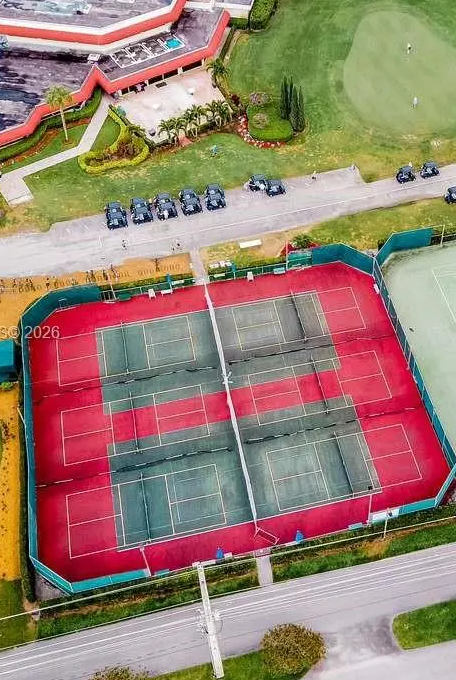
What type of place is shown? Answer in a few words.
sports ground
